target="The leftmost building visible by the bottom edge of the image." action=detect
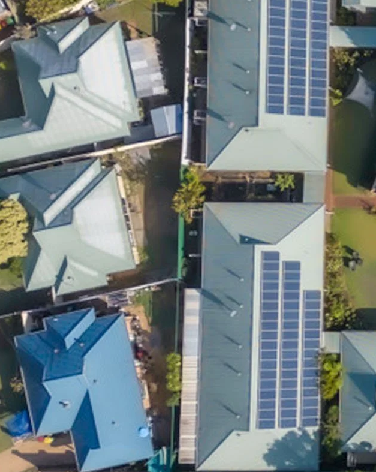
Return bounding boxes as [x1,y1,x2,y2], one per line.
[15,308,157,472]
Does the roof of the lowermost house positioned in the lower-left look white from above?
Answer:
No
